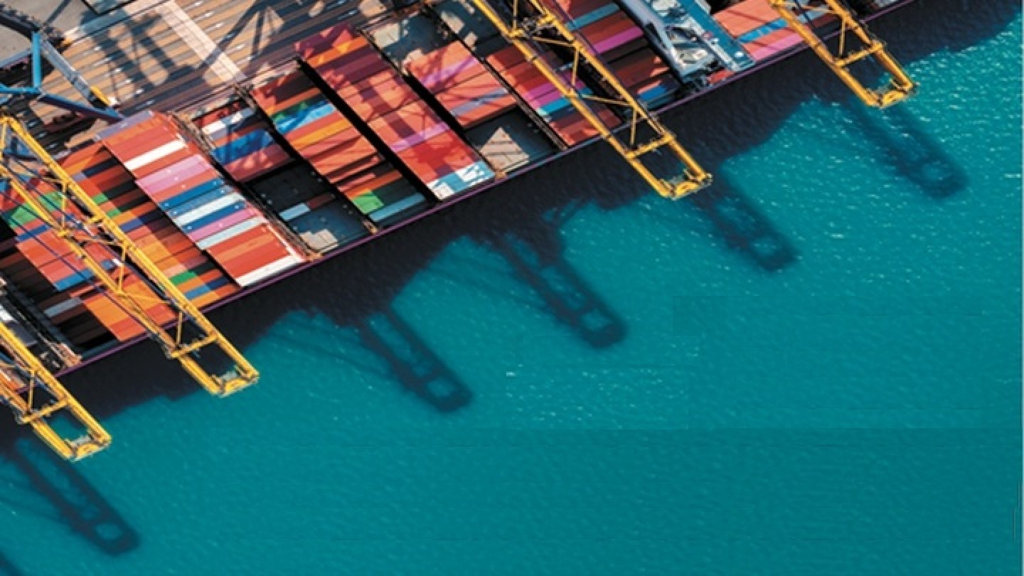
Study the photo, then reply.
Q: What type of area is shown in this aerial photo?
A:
port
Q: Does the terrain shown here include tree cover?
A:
No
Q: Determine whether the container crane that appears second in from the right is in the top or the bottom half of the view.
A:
top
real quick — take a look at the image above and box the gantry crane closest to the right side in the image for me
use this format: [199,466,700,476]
[758,0,922,108]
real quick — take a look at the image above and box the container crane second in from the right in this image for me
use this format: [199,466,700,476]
[462,0,711,199]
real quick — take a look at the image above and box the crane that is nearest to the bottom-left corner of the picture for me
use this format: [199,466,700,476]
[0,318,118,460]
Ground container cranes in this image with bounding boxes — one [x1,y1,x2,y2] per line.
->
[0,0,264,396]
[0,318,118,460]
[758,0,922,108]
[462,0,711,199]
